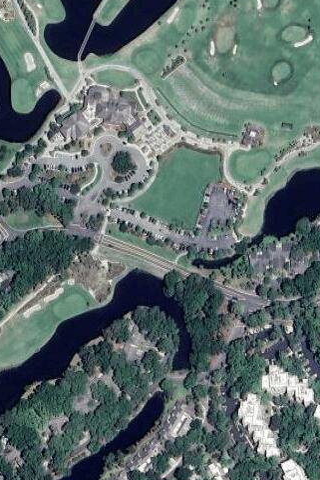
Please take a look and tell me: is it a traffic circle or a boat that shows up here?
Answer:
traffic circle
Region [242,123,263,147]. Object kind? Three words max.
building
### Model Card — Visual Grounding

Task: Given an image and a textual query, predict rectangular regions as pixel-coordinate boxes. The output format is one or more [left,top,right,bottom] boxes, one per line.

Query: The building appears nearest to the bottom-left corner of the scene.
[0,443,26,465]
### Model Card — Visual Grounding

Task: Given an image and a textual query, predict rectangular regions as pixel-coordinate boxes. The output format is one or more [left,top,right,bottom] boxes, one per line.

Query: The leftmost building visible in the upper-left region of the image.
[59,109,95,142]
